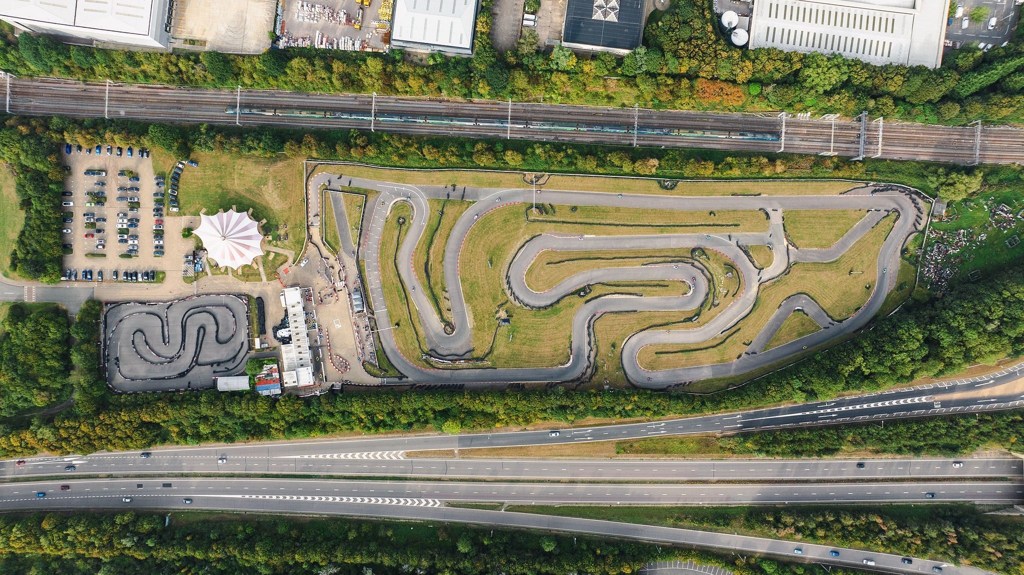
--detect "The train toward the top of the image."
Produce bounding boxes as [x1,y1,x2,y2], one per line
[227,108,778,142]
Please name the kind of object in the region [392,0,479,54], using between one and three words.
building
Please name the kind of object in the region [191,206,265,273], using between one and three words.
tent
